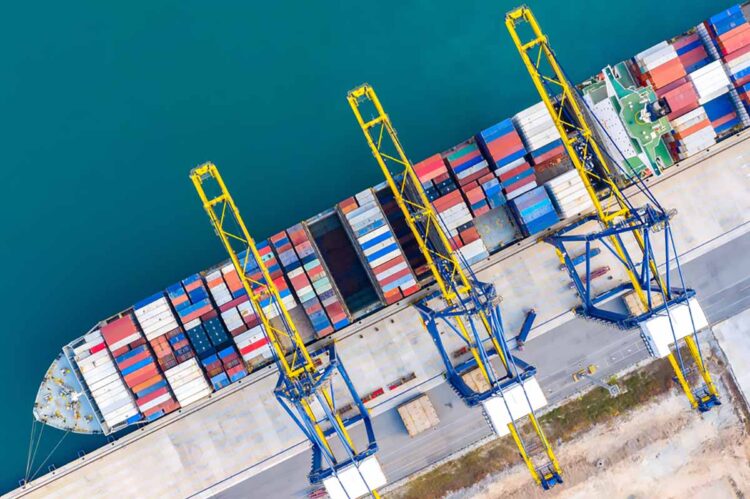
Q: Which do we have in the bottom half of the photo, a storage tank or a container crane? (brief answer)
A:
container crane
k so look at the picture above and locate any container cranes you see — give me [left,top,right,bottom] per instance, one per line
[347,84,562,489]
[189,162,388,499]
[505,5,721,412]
